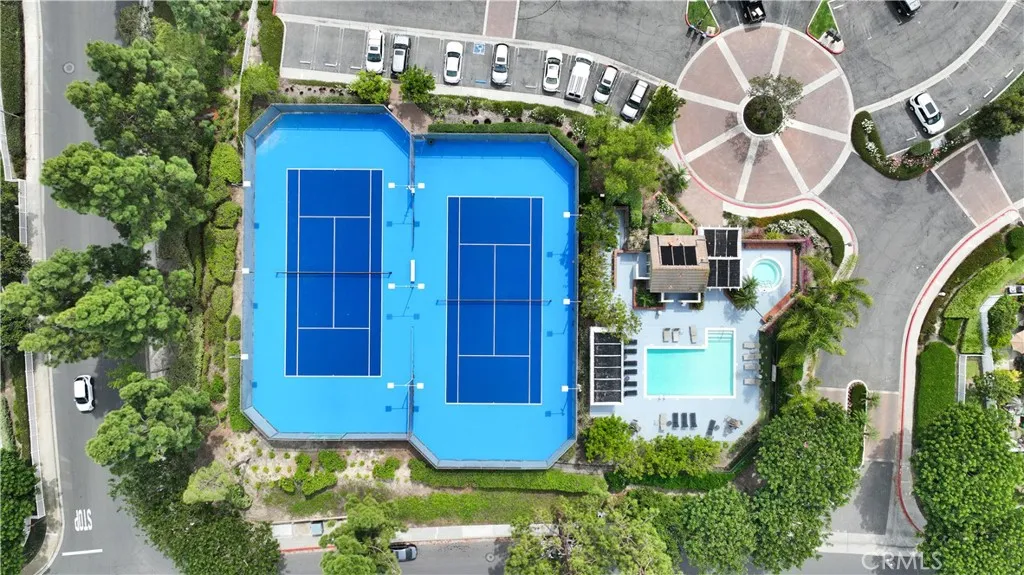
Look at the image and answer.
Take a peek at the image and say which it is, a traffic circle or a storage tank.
traffic circle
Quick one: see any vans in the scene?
Yes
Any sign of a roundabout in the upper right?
Yes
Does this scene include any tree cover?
Yes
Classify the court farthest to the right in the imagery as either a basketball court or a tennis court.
tennis court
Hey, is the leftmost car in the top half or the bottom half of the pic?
bottom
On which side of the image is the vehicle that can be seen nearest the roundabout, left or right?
right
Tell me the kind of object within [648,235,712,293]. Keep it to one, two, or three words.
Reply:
building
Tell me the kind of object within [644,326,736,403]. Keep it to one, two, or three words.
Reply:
swimming pool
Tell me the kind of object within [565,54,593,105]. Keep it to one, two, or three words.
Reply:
van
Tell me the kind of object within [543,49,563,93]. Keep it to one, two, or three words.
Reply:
car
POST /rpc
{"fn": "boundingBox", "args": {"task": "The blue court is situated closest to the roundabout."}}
[413,140,575,461]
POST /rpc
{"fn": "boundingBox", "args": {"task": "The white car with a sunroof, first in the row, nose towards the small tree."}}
[364,30,385,73]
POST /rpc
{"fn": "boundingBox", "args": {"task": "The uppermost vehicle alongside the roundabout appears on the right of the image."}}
[742,0,767,27]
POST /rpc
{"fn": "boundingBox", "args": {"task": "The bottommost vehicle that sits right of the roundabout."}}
[909,91,942,135]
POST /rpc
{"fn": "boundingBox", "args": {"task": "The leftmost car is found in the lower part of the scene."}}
[74,374,97,412]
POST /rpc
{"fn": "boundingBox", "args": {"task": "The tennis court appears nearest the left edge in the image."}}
[253,112,415,433]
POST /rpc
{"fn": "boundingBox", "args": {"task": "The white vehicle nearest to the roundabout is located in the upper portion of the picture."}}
[621,78,649,123]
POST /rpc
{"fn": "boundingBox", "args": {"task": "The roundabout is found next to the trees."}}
[673,23,853,204]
